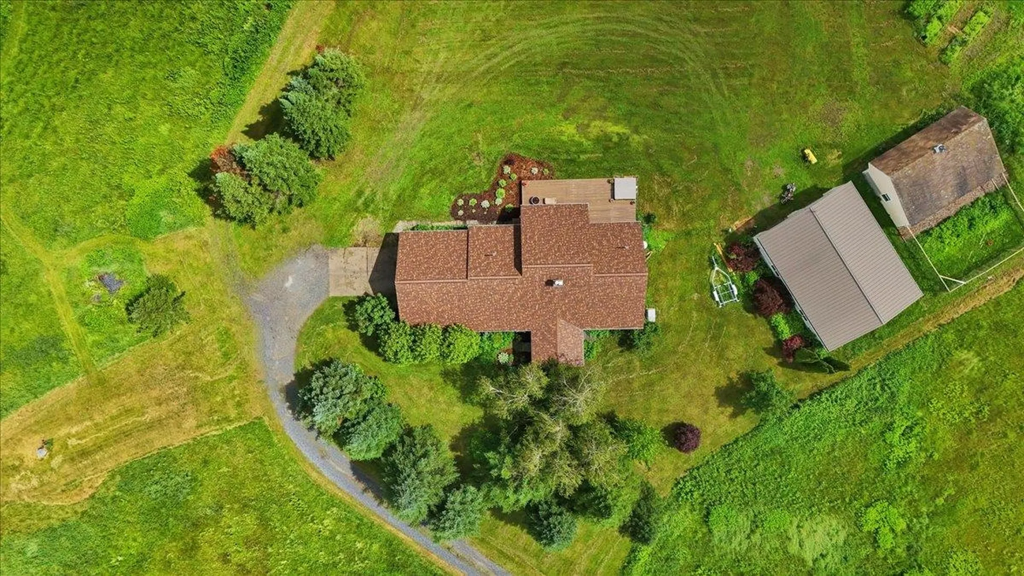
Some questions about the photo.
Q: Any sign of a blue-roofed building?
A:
No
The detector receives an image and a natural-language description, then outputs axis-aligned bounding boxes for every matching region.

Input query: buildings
[393,203,648,366]
[862,108,1005,227]
[753,179,923,353]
